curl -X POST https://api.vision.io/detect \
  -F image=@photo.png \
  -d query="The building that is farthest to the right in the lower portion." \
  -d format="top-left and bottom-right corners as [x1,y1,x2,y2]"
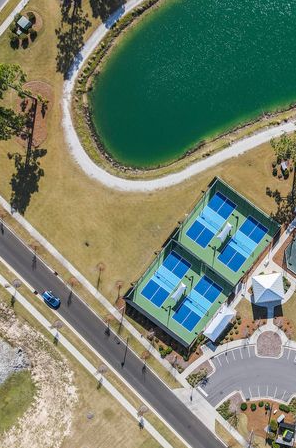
[252,272,284,302]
